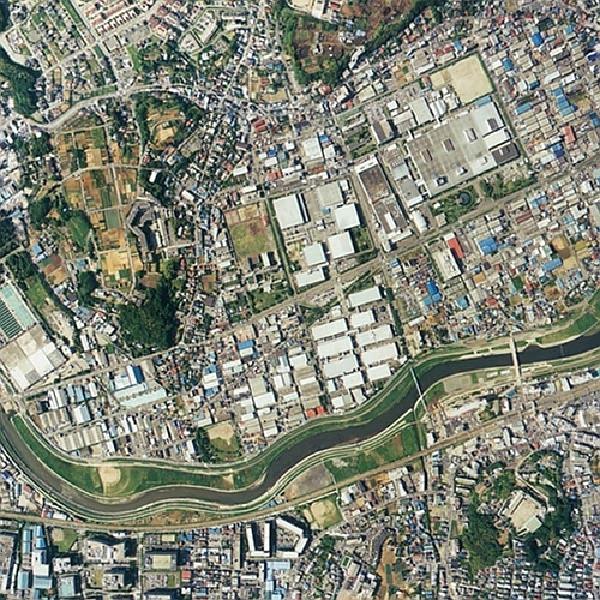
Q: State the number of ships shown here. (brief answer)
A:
0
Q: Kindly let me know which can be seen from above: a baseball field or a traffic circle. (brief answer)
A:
baseball field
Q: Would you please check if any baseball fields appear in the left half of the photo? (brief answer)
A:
Yes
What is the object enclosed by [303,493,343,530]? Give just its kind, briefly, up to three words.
sports field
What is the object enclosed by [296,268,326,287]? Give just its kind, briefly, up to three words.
building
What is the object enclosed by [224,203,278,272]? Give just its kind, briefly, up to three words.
sports field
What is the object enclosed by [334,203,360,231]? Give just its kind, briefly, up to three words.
building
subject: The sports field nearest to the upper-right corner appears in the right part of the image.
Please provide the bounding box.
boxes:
[448,53,492,107]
